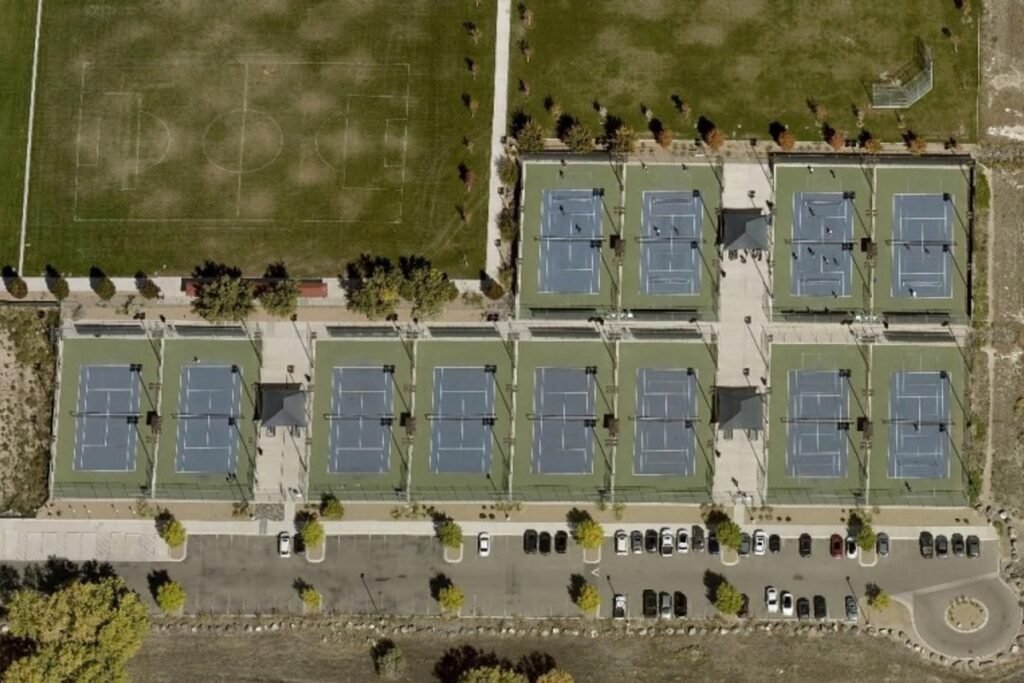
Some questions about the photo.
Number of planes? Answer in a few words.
zero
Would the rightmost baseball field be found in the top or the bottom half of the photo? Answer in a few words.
top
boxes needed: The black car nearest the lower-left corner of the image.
[293,535,305,558]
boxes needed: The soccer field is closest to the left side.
[25,0,497,278]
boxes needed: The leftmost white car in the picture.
[279,534,292,557]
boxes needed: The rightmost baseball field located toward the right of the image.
[504,0,979,142]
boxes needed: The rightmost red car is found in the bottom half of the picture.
[830,535,843,557]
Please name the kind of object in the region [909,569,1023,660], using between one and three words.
roundabout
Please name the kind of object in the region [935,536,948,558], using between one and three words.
vehicle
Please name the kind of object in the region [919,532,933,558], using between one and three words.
vehicle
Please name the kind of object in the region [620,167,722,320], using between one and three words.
tennis court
